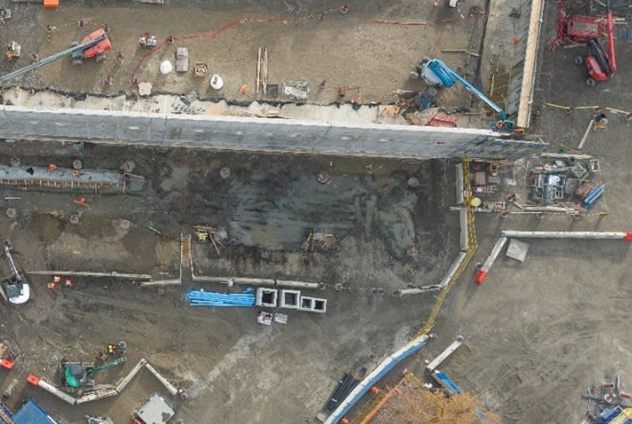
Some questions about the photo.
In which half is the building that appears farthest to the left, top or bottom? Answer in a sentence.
The building that appears farthest to the left sits in the bottom half of the picture.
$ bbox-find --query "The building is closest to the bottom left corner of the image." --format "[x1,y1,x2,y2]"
[137,392,176,424]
